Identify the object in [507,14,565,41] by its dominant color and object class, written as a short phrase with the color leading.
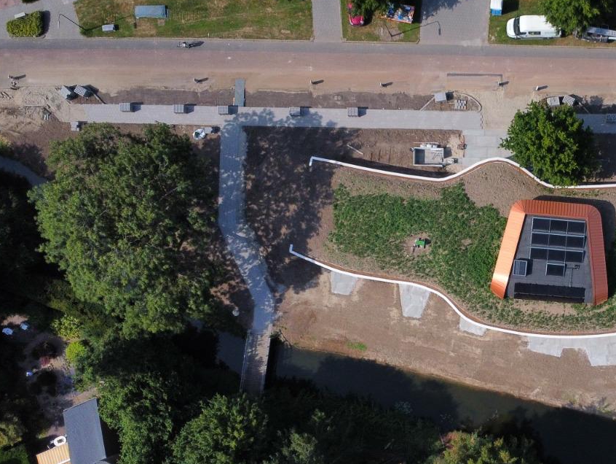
white vehicle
